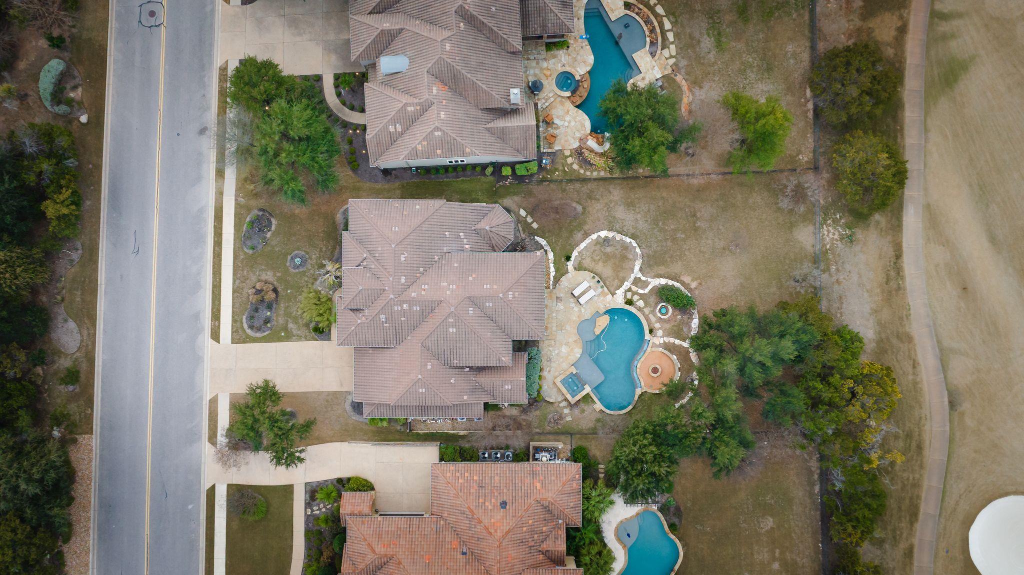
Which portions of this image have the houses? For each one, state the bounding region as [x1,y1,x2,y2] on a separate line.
[335,198,546,420]
[340,460,584,575]
[348,0,577,169]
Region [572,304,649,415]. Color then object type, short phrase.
blue swimming pool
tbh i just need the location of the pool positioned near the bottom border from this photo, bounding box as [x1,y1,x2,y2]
[615,509,683,575]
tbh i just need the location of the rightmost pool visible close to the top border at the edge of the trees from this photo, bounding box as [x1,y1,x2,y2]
[578,0,647,134]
